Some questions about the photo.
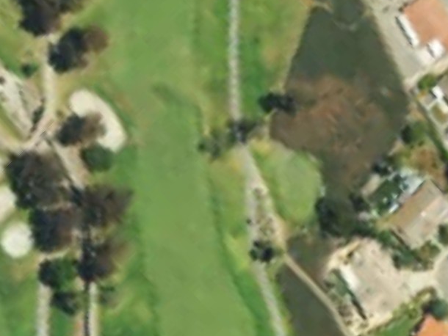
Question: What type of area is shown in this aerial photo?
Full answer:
The area seen from above is a golf course.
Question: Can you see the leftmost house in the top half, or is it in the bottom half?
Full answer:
The bottom half of the photo is where the leftmost house is.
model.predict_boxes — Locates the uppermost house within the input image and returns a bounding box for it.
[400,0,448,61]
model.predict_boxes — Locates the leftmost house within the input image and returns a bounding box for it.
[338,239,409,313]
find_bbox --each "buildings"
[411,314,448,336]
[372,179,448,250]
[400,0,448,61]
[338,239,409,313]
